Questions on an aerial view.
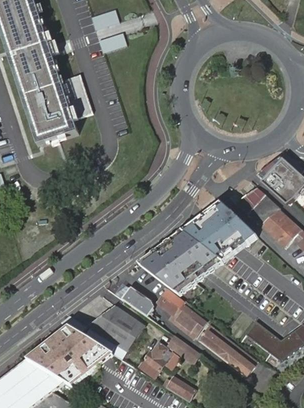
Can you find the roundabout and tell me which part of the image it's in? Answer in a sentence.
The roundabout sits in the top right section of the image.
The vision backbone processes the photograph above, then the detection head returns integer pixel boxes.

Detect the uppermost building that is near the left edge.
[0,0,80,148]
